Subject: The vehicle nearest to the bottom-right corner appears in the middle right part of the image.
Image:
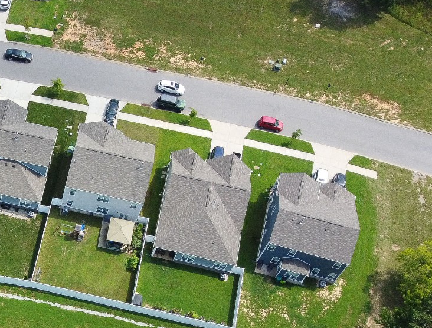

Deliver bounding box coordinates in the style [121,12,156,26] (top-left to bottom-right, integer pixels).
[333,170,349,186]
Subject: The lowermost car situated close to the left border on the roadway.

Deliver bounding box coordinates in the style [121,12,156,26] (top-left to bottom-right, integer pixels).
[5,47,34,63]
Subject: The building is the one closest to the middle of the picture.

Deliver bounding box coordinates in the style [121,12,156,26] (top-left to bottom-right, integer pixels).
[151,144,251,274]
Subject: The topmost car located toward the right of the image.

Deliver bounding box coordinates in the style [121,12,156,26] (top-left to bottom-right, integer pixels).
[256,113,286,132]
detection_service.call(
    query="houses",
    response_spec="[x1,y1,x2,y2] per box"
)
[256,173,360,287]
[151,144,251,274]
[0,99,59,212]
[61,120,155,224]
